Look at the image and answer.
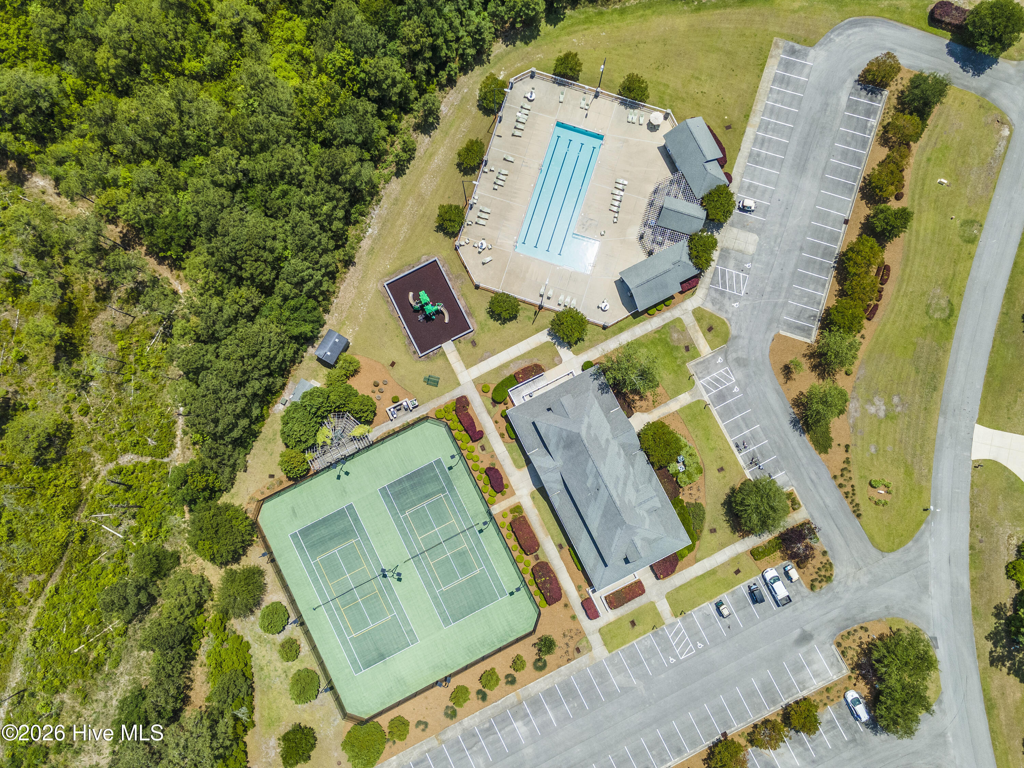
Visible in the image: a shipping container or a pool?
pool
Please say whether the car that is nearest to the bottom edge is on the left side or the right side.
right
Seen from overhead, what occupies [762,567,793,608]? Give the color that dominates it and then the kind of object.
white truck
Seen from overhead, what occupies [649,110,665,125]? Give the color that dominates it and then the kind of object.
white umbrella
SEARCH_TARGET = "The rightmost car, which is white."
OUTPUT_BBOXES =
[844,688,869,724]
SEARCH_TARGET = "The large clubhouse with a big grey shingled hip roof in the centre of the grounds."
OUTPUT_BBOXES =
[505,365,692,592]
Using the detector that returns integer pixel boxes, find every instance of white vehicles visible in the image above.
[738,201,756,213]
[783,565,800,582]
[715,600,732,618]
[762,567,793,608]
[844,688,869,724]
